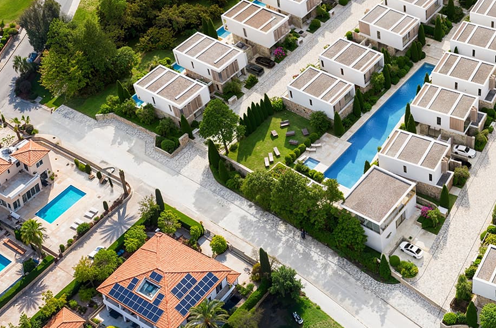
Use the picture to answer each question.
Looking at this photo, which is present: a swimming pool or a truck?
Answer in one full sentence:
This aerial view contains a swimming pool.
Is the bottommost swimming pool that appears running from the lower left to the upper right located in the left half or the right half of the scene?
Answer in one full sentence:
It is on the left.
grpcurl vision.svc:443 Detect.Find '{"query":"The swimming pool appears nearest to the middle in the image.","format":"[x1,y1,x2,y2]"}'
[301,154,323,169]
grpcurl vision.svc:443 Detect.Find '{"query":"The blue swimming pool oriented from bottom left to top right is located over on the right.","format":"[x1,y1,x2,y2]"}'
[323,61,436,189]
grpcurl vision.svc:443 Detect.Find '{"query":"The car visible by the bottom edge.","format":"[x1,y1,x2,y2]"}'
[290,309,304,325]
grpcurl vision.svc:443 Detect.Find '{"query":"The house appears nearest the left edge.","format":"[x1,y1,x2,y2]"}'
[0,139,58,210]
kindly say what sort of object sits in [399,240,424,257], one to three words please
car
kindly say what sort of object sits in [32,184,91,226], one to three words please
swimming pool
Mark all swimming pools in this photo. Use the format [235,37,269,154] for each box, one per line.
[0,252,19,291]
[212,27,233,39]
[32,184,91,226]
[170,61,188,74]
[127,91,145,108]
[323,61,436,189]
[301,154,323,169]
